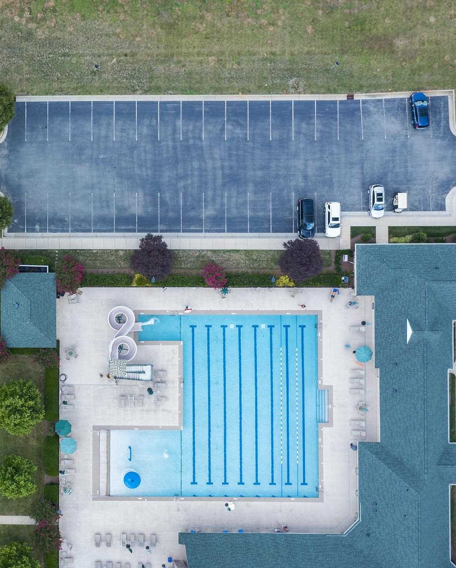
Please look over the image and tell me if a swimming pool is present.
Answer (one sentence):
Yes, the photo shows a swimming pool.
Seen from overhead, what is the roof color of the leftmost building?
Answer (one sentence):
The roof over the leftmost building appears blue.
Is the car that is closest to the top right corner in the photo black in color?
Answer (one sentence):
No, the car that is closest to the top right corner is actually blue.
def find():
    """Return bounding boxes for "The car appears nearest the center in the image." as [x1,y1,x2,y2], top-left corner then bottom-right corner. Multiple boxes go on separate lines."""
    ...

[297,199,318,237]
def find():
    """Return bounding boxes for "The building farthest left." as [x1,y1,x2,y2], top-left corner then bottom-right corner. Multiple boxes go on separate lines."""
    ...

[0,272,57,349]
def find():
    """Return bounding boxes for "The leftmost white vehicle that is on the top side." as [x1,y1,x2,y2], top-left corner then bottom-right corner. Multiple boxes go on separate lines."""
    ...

[324,202,343,236]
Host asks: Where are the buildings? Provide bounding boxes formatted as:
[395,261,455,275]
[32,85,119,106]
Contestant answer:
[0,272,57,349]
[171,243,456,568]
